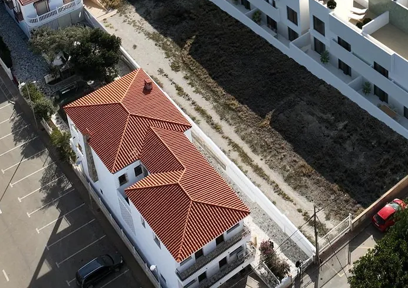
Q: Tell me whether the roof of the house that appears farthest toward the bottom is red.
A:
Yes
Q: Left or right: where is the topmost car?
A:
right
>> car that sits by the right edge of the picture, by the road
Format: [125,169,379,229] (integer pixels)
[370,197,408,228]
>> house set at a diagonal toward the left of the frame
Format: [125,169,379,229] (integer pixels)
[61,68,261,288]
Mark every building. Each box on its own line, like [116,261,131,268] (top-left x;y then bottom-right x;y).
[307,0,408,121]
[2,0,87,45]
[61,68,261,288]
